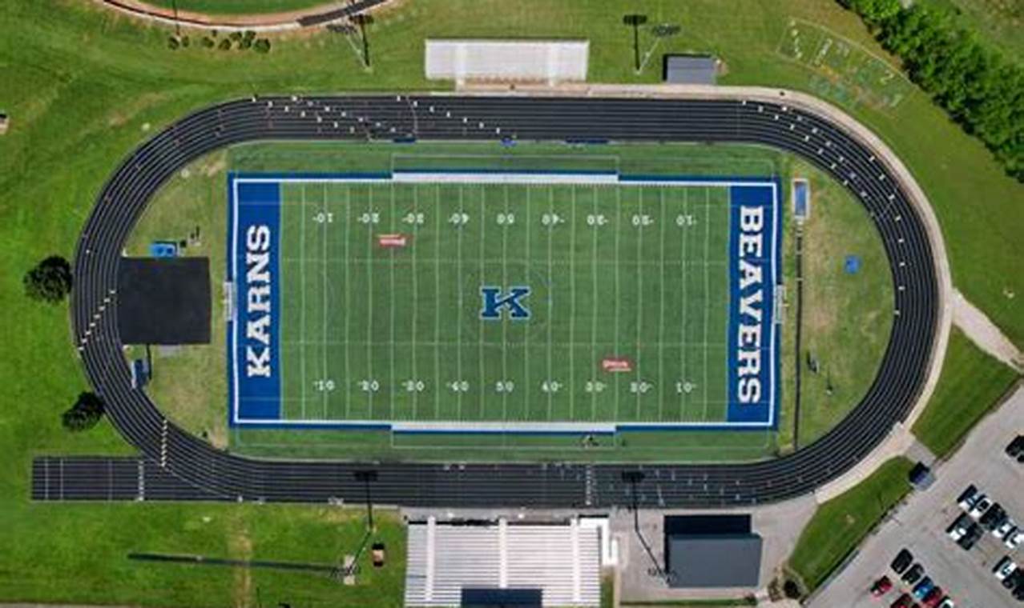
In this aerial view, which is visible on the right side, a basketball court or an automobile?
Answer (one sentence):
There is an automobile on the right side.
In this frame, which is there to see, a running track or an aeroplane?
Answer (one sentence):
Visible in the photo is a running track.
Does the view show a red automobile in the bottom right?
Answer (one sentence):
Yes, a red automobile appears in the bottom right.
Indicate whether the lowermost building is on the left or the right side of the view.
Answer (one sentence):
The lowermost building is on the right side of the image.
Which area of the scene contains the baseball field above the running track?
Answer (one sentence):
The baseball field above the running track is in the top left part of the image.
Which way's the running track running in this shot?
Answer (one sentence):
I'd say the running track is aligned from left to right in the picture.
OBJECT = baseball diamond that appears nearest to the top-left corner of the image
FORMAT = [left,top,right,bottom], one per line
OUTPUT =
[115,0,356,23]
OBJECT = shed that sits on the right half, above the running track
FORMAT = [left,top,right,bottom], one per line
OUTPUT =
[666,55,717,87]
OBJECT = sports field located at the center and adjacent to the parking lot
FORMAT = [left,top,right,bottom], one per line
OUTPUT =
[229,141,781,462]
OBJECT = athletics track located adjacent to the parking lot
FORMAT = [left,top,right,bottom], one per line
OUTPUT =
[32,95,938,506]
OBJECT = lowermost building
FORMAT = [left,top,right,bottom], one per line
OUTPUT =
[664,525,764,588]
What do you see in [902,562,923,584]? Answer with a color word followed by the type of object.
black car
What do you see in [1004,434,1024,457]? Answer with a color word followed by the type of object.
black car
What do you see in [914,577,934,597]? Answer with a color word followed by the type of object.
blue car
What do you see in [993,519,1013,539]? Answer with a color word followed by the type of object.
white car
